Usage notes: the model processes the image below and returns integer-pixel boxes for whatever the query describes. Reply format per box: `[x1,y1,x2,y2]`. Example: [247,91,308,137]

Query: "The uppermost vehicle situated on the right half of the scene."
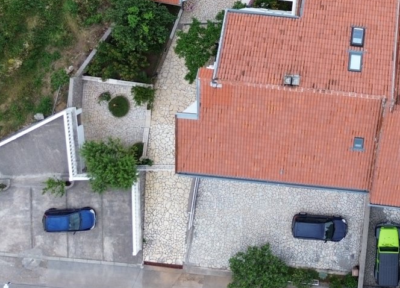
[290,211,348,243]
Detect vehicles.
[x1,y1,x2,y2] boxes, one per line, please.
[40,204,98,235]
[290,211,348,243]
[373,226,400,288]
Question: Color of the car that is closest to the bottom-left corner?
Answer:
blue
